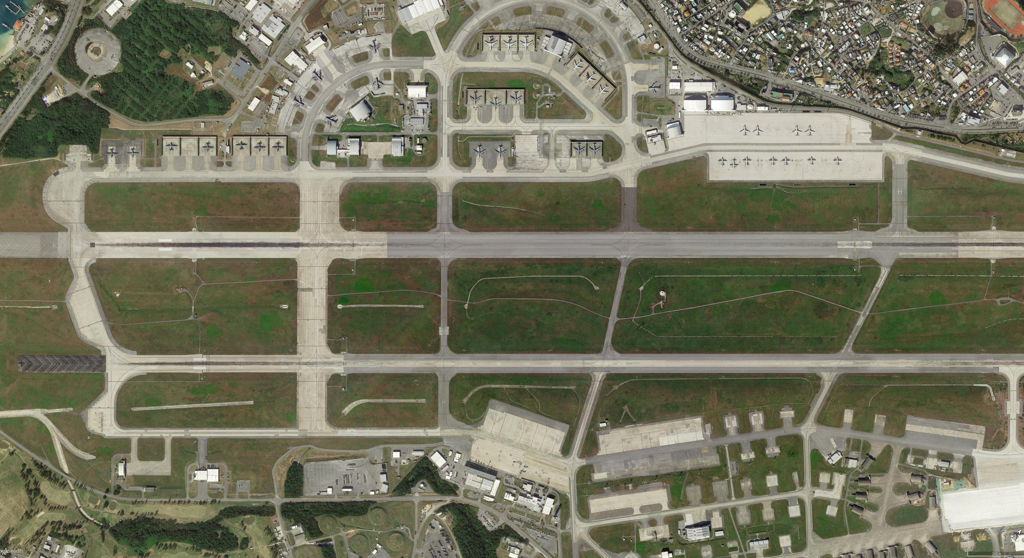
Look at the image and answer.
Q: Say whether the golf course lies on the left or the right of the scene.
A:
left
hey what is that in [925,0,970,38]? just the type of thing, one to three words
baseball field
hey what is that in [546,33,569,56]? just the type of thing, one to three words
hangar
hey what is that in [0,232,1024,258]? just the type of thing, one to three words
runway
